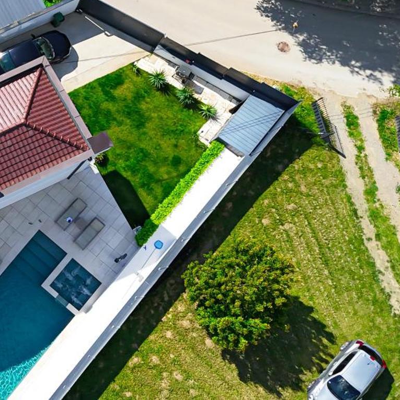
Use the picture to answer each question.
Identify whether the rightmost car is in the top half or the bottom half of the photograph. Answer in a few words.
bottom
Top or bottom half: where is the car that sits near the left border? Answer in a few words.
top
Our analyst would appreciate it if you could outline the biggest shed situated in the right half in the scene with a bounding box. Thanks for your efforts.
[207,96,285,160]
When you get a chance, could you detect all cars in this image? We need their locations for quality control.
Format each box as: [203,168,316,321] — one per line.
[308,343,390,400]
[0,33,73,77]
